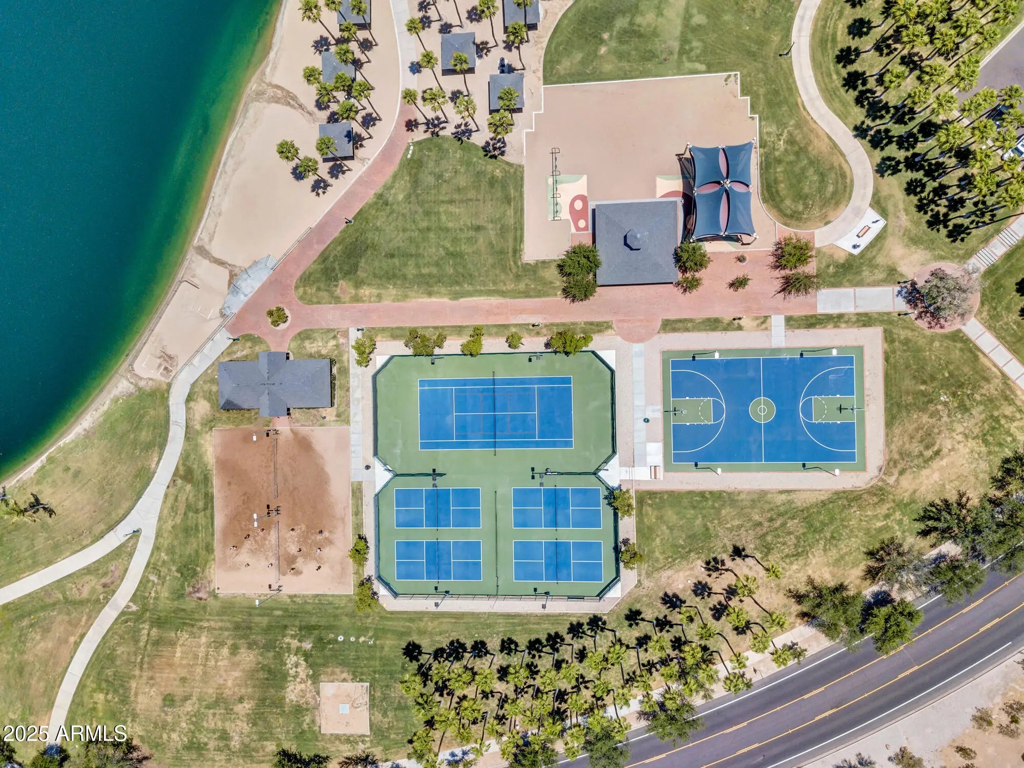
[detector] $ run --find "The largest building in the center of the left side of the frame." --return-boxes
[214,352,331,417]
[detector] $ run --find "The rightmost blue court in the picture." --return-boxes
[662,346,866,472]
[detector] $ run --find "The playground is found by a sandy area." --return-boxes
[523,72,815,261]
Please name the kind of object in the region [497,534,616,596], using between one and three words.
sports court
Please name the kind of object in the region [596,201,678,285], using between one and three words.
building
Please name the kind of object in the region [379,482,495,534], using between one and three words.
sports court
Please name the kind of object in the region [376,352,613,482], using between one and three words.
tennis court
